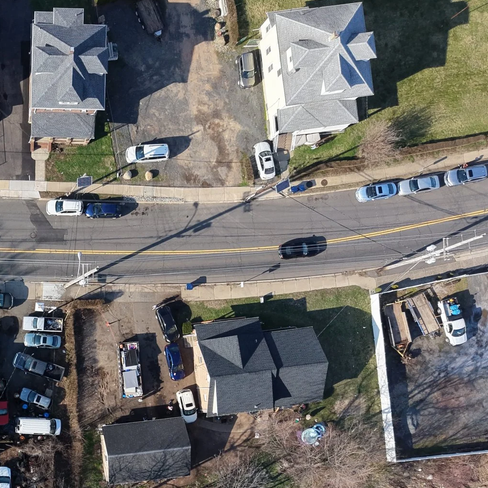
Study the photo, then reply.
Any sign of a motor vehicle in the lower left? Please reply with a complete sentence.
Yes, a motor vehicle is visible in the lower left.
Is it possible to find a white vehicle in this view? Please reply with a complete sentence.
Yes, looking at the shot, I can spot a white vehicle.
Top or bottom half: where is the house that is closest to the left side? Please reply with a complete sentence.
The house that is closest to the left side is in the top half of the image.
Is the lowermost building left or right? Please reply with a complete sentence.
You can find the lowermost building on the left side of the picture.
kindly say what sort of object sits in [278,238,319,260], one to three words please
car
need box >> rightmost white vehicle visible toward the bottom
[433,296,468,347]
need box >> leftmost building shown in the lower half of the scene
[100,416,191,484]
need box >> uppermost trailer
[136,0,163,36]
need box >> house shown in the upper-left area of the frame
[28,7,122,150]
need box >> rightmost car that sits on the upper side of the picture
[441,162,488,190]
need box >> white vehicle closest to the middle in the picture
[251,141,277,182]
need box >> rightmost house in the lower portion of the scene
[177,317,328,418]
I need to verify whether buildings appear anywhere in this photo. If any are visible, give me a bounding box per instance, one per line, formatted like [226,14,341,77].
[251,1,377,161]
[177,317,328,418]
[28,7,122,150]
[100,416,191,484]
